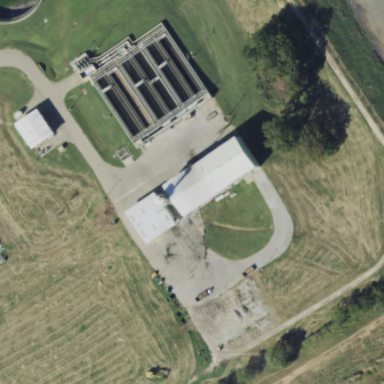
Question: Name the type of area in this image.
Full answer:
It's an industrial area.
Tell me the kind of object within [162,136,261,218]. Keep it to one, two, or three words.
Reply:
building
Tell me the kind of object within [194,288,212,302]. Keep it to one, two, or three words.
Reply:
vehicle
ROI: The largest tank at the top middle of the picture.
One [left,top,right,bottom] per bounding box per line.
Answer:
[90,22,213,150]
